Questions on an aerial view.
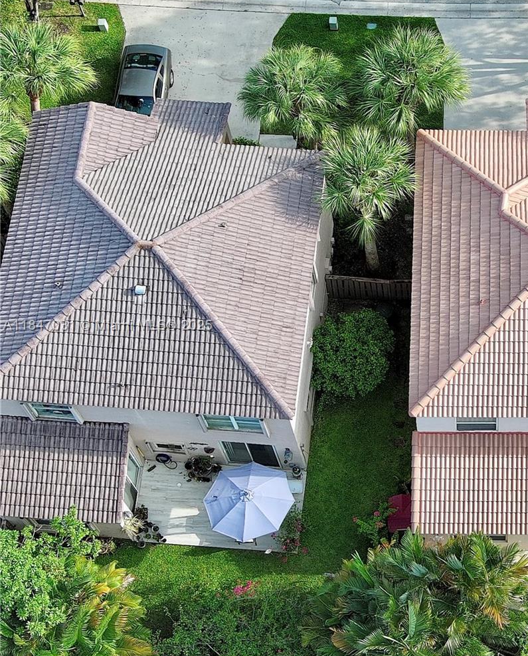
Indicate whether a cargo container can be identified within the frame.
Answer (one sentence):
No, this view has no cargo container in it.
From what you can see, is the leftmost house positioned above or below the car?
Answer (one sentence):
The position of the leftmost house is below the car.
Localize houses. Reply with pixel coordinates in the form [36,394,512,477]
[408,94,528,549]
[0,99,334,536]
